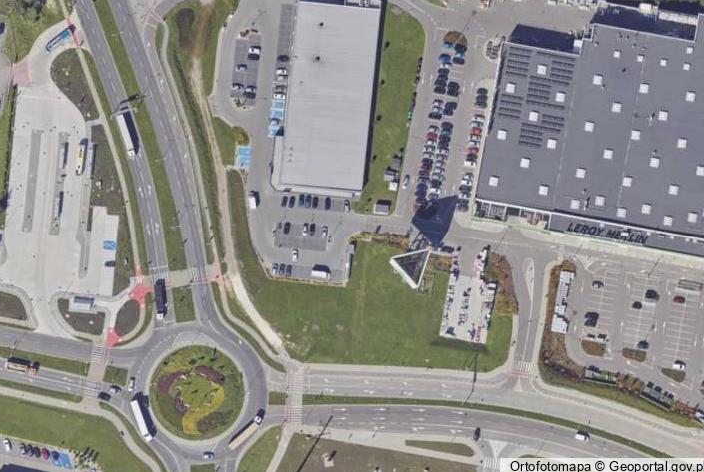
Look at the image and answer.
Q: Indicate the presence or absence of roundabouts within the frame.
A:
Yes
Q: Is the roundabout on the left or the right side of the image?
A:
left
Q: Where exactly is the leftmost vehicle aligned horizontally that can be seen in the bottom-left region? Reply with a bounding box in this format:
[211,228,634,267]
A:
[7,360,37,374]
